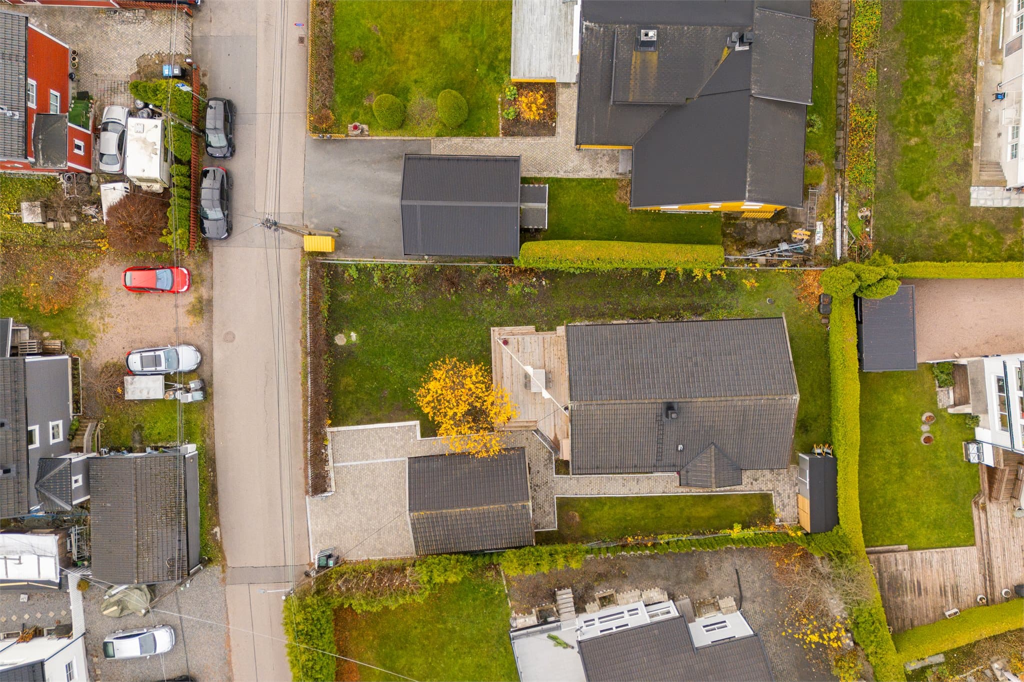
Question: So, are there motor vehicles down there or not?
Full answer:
Yes, a motor vehicle appears in the view.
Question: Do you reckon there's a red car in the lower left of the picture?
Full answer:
No, I see no red car in the lower left of the picture.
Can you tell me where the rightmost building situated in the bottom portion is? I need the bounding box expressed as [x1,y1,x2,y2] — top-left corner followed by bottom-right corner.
[962,351,1024,468]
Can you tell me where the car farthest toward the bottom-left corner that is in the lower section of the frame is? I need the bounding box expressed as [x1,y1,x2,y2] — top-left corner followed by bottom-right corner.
[101,620,179,662]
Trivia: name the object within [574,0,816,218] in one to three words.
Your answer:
house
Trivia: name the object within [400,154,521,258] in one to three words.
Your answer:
building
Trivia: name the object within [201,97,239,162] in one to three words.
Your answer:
car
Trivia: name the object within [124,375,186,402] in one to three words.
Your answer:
trailer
